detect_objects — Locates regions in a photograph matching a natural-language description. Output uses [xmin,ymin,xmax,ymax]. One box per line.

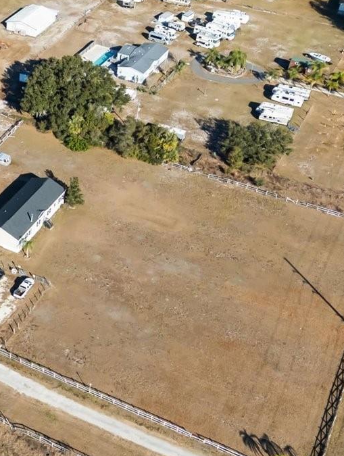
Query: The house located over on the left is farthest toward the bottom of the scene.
[0,176,64,252]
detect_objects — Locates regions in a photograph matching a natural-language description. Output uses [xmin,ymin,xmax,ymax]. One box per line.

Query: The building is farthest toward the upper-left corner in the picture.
[4,0,63,37]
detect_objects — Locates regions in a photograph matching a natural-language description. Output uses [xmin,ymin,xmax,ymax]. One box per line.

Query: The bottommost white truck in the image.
[11,278,37,301]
